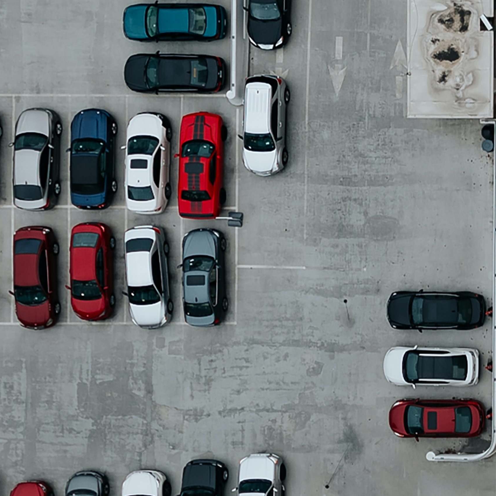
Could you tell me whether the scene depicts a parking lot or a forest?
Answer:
parking lot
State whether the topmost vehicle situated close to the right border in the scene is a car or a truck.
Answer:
car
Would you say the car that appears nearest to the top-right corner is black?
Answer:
Yes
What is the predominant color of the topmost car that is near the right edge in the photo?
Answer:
black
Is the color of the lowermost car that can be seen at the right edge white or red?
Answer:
red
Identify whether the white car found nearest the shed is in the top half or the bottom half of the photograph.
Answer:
top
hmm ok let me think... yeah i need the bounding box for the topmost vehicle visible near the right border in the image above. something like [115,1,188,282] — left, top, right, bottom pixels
[387,287,487,335]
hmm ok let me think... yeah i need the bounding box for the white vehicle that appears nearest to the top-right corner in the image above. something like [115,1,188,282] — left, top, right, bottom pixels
[237,74,290,177]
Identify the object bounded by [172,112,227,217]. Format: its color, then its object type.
red car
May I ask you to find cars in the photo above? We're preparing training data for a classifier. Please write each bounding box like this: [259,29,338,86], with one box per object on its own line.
[175,227,228,327]
[125,47,226,96]
[237,74,290,177]
[172,112,227,217]
[383,342,481,393]
[66,470,109,496]
[173,458,228,496]
[242,0,291,51]
[123,0,227,43]
[122,469,172,496]
[118,224,173,329]
[7,226,61,330]
[65,108,118,209]
[389,395,485,443]
[229,453,286,496]
[387,287,487,335]
[6,107,62,212]
[118,112,172,214]
[63,222,115,322]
